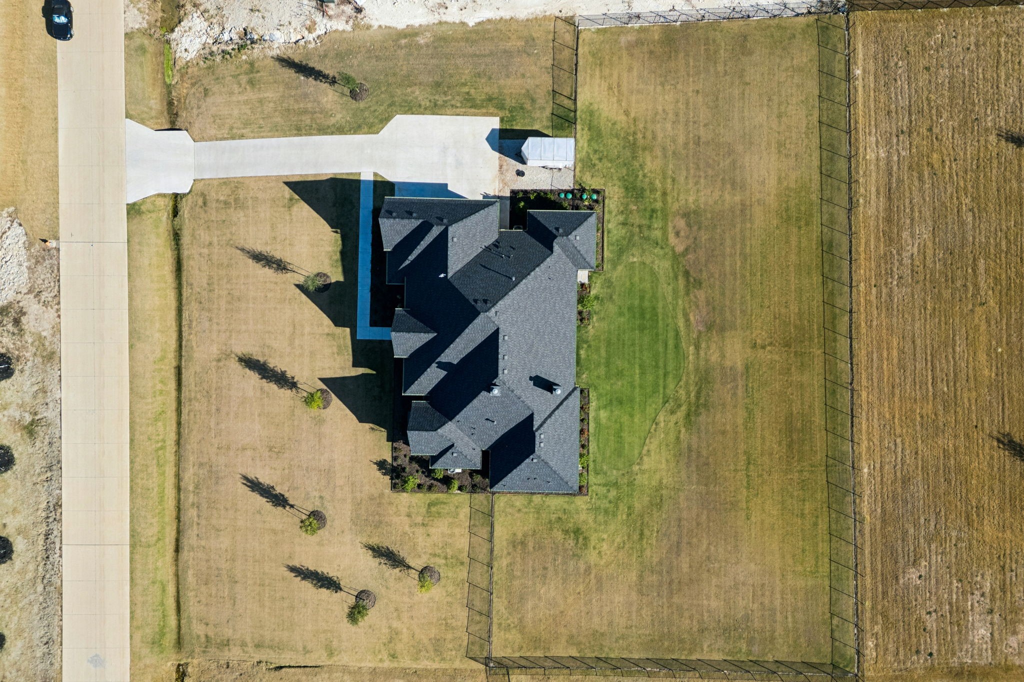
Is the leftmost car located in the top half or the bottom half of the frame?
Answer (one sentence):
The leftmost car is in the top half of the image.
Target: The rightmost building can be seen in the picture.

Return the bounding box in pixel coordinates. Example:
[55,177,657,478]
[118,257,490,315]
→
[379,196,597,494]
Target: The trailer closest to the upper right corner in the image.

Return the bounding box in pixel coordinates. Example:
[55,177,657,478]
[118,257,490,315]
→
[512,137,574,168]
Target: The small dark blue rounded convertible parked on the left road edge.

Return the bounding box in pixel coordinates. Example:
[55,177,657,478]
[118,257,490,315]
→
[48,0,75,41]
